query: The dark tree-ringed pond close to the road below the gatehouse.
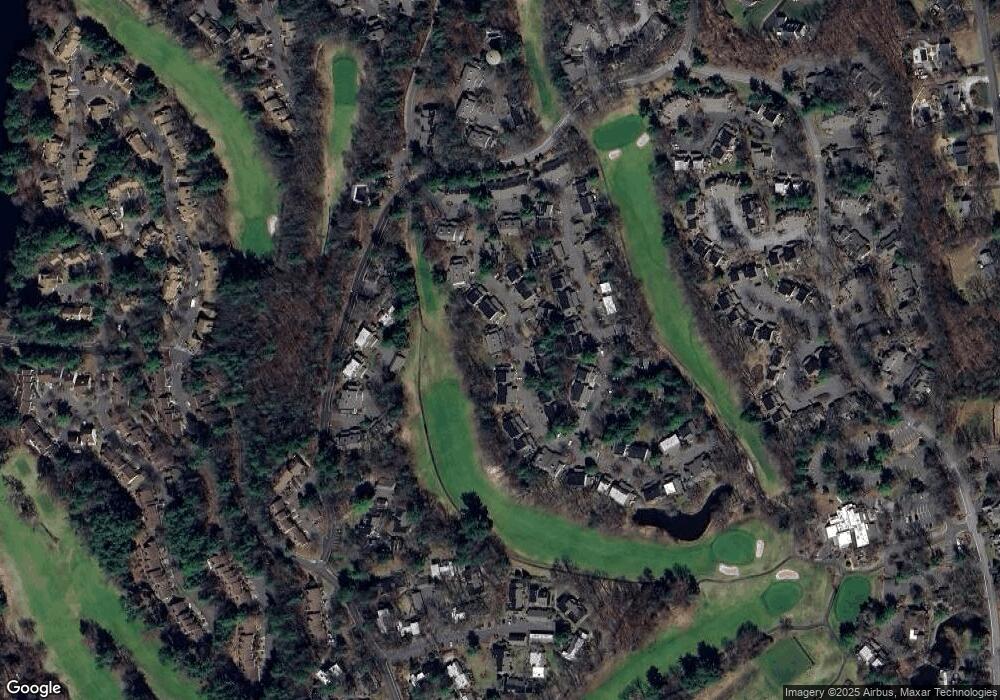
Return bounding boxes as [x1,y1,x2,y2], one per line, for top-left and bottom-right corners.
[911,612,984,691]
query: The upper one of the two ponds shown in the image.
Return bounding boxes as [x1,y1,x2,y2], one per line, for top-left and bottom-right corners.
[633,484,733,540]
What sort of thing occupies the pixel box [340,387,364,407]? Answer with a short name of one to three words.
house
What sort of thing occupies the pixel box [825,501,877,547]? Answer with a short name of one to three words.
building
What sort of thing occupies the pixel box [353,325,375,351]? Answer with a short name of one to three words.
house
